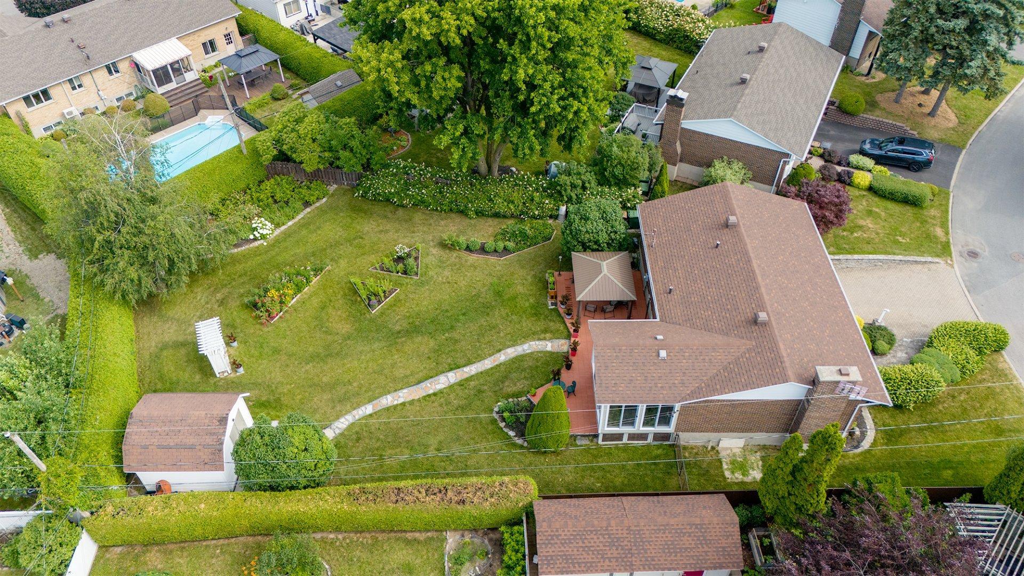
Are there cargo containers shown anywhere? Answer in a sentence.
No, no cargo container can be seen from above.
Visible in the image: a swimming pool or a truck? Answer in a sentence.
There is a swimming pool in the scene.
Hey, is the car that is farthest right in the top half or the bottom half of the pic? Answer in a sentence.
You can find the car that is farthest right in the top half.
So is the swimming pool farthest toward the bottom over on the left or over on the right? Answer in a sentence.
You can find the swimming pool farthest toward the bottom on the left side of the picture.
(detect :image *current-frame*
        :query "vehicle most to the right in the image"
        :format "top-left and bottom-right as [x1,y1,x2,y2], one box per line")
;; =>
[860,132,934,168]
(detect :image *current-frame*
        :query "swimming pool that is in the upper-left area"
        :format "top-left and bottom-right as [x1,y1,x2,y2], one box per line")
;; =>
[110,115,246,178]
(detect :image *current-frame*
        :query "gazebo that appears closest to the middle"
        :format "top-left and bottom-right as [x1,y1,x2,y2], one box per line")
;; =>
[571,250,637,328]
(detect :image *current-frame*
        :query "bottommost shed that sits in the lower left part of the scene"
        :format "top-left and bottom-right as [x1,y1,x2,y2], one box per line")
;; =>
[121,395,259,491]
